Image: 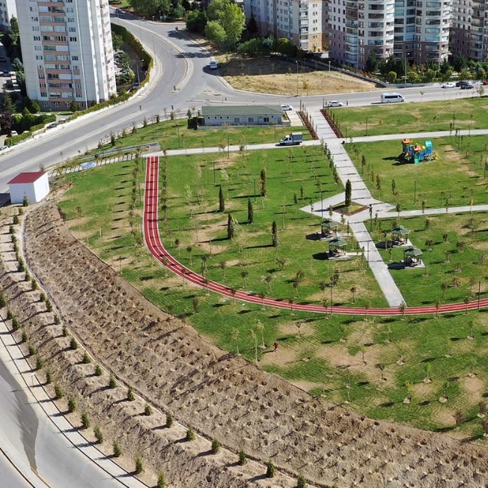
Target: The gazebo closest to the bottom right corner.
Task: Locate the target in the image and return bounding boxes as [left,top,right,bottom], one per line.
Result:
[398,245,427,266]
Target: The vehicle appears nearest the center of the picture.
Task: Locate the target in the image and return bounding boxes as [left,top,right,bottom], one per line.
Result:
[277,131,303,145]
